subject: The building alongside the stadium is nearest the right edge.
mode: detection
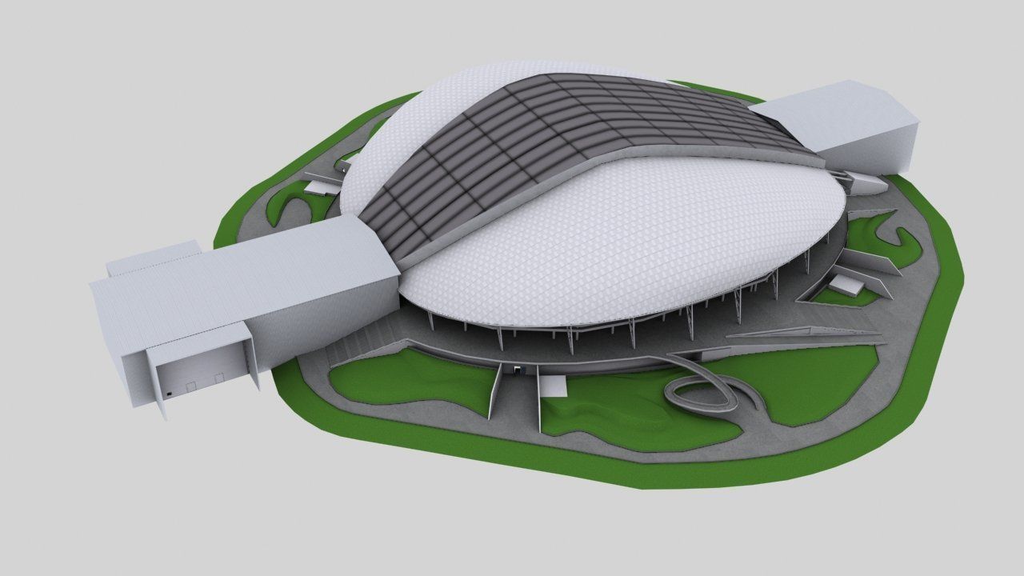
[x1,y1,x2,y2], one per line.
[746,80,921,179]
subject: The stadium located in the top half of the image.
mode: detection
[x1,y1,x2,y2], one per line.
[338,59,847,355]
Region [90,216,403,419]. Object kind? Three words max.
building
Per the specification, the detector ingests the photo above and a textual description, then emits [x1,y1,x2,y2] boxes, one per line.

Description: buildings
[746,80,921,179]
[90,216,403,419]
